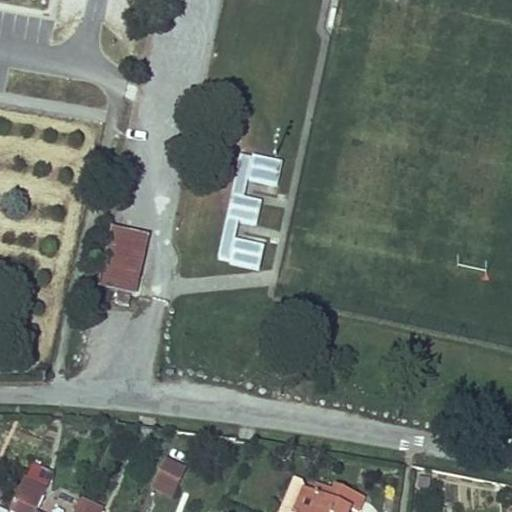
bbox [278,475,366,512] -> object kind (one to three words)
house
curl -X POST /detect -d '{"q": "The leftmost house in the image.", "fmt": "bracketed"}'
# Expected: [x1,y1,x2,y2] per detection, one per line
[10,458,54,512]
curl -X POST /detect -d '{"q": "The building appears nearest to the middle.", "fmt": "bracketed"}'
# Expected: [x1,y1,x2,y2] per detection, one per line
[218,152,283,272]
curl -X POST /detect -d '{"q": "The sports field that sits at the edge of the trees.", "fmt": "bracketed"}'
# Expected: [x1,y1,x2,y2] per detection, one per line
[277,0,512,348]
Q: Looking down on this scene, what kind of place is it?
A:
sports ground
